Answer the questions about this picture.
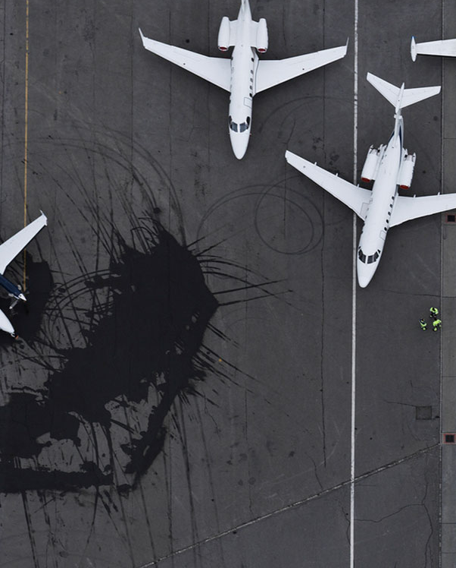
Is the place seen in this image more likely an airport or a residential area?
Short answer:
airport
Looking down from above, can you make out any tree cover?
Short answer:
No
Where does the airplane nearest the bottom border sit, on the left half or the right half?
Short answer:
left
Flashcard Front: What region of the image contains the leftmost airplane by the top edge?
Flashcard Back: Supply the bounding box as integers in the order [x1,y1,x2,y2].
[139,0,348,161]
